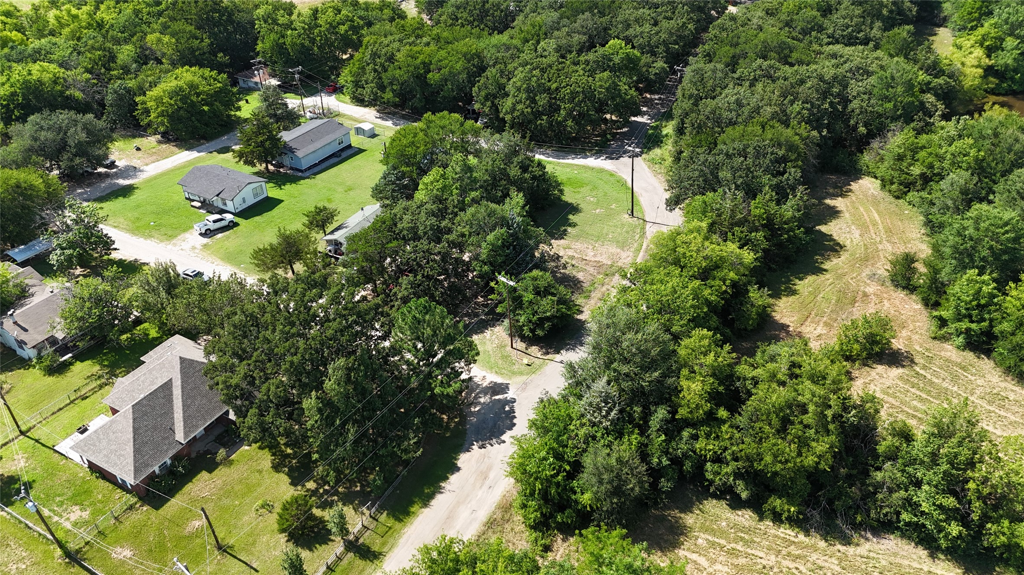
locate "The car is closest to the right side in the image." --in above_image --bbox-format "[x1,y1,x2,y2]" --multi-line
[471,116,492,128]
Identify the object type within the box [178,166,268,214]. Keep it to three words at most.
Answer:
house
